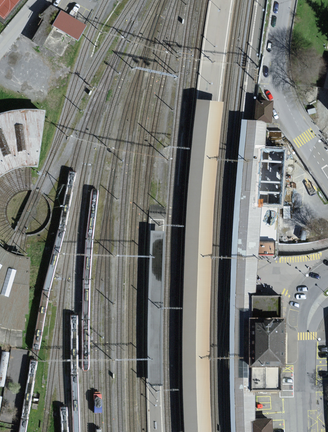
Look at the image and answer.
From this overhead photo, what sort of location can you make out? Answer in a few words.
rail yard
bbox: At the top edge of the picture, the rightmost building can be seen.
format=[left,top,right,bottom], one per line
[54,11,86,40]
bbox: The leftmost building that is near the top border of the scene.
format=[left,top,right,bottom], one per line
[33,4,60,45]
